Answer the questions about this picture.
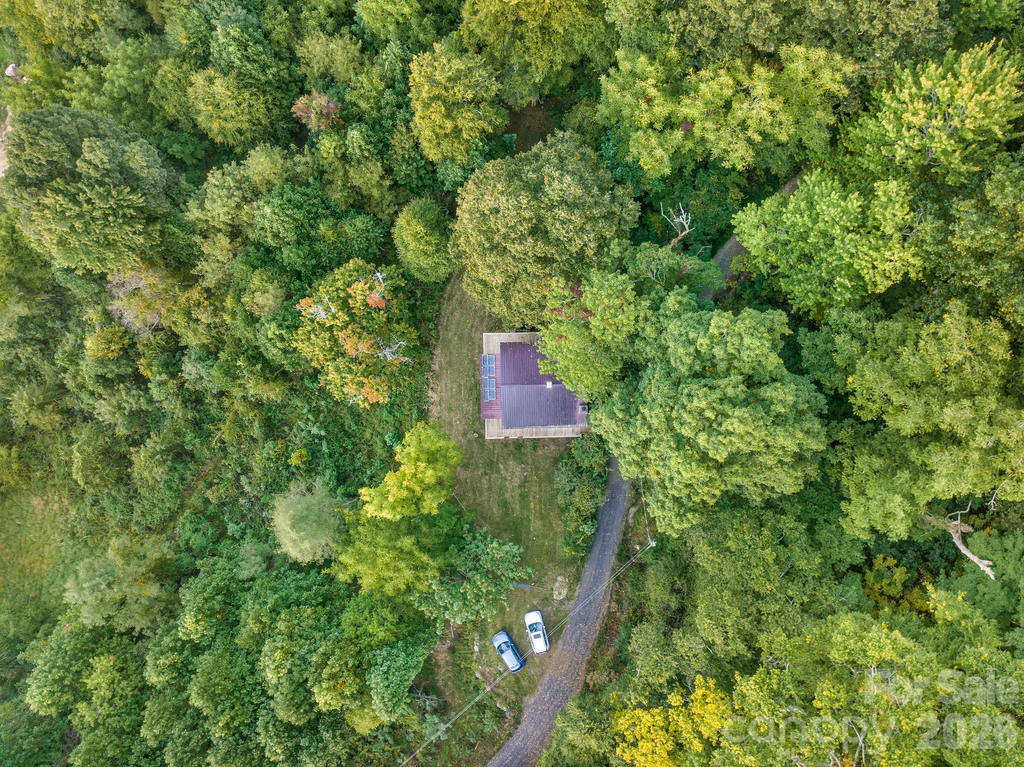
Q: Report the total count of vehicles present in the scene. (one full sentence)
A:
Looking from above, you can make out 2 vehicles.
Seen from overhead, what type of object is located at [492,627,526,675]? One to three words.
car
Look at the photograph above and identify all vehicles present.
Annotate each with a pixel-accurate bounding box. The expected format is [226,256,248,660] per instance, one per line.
[492,627,526,675]
[525,607,550,658]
